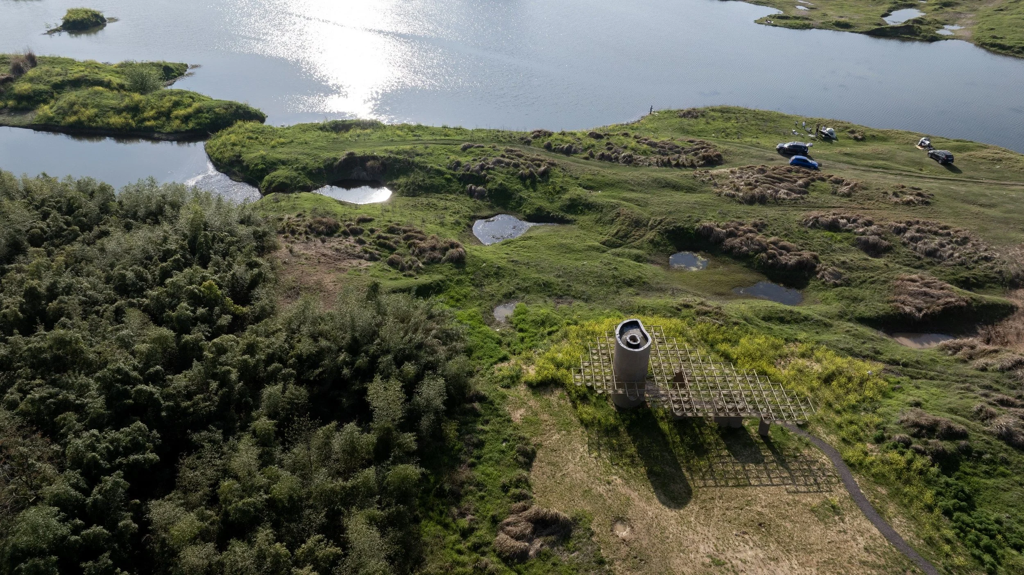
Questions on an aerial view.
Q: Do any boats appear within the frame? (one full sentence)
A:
No, there's no boat here.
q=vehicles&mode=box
[775,137,819,152]
[928,146,957,163]
[789,149,823,167]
